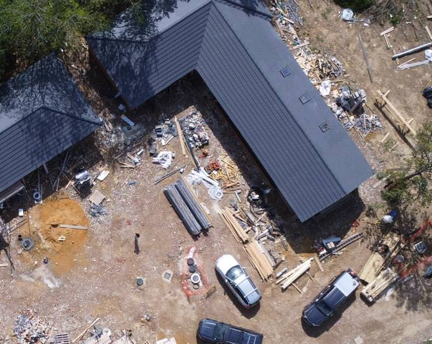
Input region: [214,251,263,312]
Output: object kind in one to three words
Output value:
car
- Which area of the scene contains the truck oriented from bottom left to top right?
bottom right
